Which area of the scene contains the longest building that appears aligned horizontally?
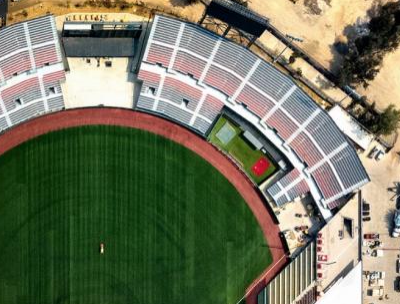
top left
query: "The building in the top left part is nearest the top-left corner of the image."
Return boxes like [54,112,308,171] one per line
[61,22,143,62]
